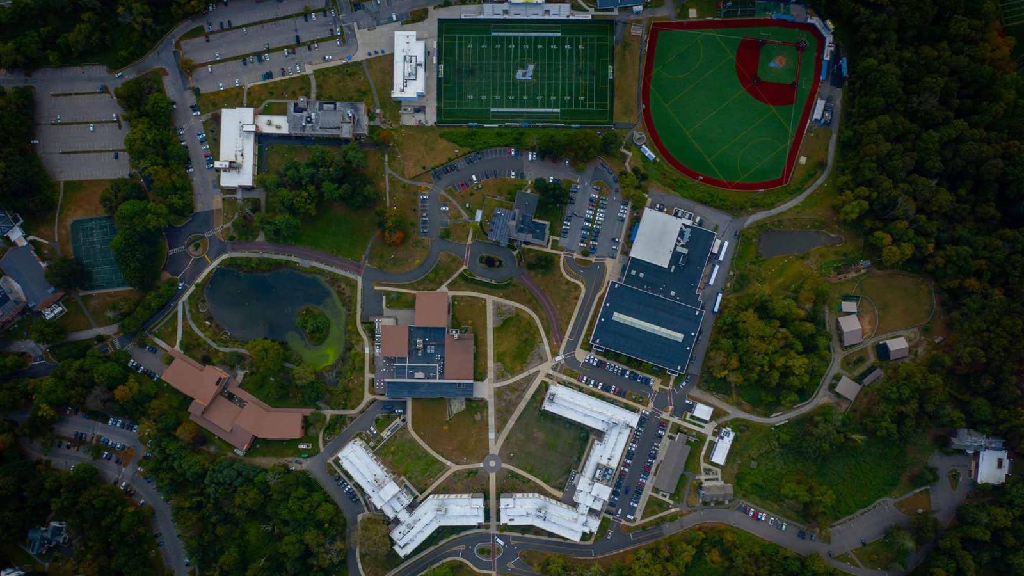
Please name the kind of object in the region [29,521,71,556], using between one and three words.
house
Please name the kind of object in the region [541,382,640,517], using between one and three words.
building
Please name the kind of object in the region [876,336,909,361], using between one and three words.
barn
